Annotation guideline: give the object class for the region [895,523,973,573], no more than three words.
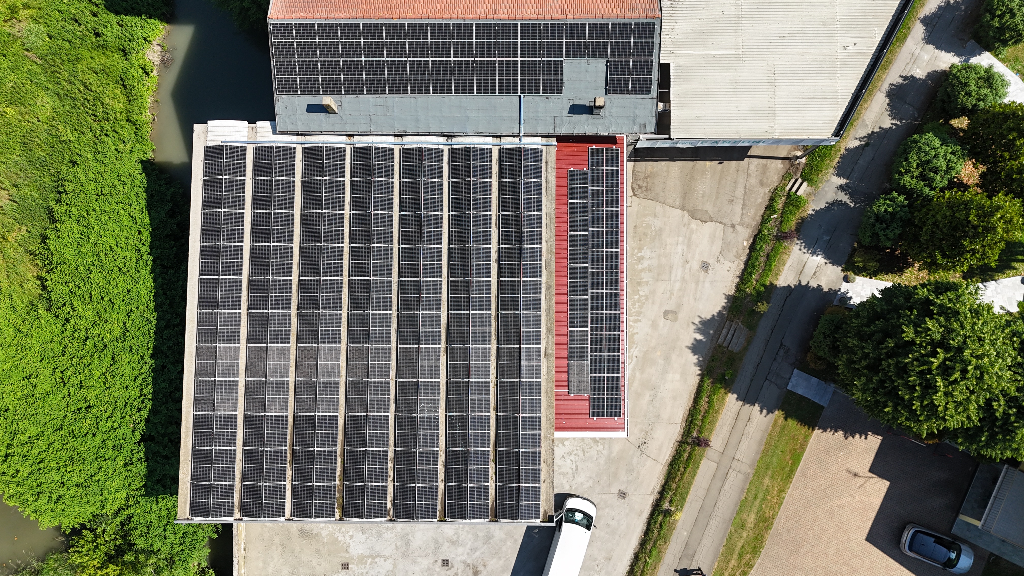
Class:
car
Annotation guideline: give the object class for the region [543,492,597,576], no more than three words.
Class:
van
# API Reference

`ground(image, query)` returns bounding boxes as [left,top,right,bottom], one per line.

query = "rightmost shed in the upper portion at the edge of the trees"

[656,0,915,162]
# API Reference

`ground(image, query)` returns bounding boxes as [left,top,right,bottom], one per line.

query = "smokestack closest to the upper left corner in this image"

[323,96,339,114]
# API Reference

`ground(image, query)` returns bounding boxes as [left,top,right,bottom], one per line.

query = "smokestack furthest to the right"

[591,97,606,116]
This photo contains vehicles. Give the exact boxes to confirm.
[543,492,597,576]
[895,523,973,573]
